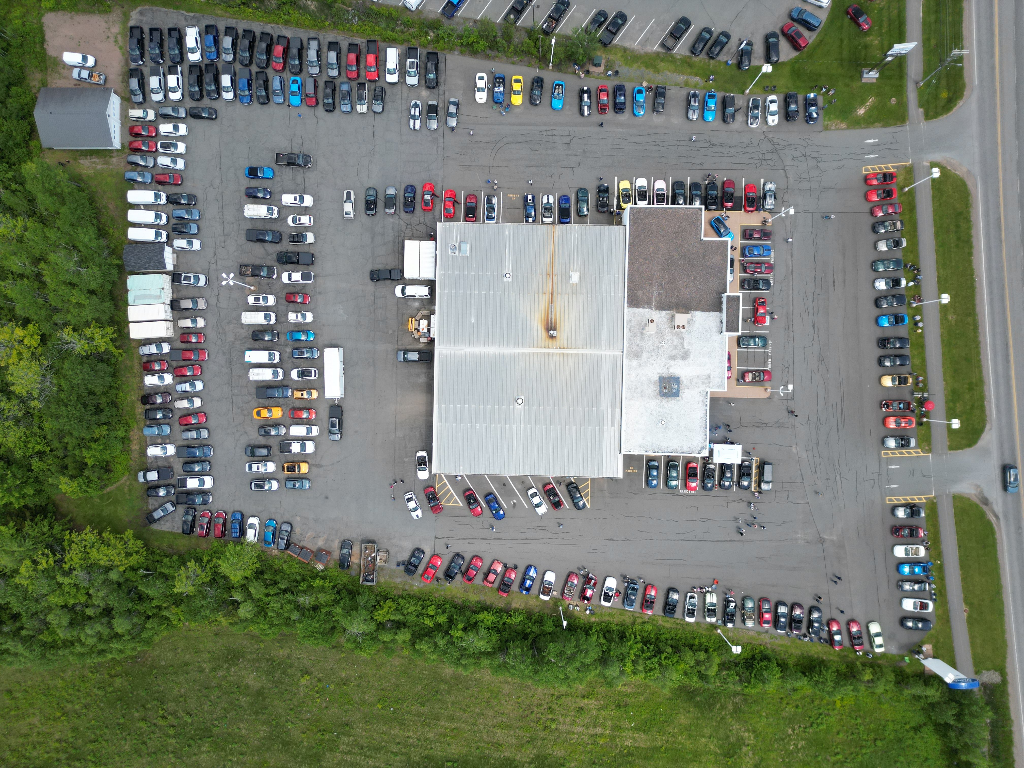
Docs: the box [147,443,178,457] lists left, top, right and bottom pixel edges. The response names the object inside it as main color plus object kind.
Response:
white car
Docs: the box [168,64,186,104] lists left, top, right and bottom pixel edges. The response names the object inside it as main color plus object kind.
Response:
white vehicle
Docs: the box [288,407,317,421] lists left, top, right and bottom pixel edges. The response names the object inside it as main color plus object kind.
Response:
red car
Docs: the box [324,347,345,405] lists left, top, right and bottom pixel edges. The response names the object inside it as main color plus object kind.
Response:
white trailer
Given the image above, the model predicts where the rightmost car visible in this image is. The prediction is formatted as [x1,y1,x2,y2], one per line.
[1002,464,1021,493]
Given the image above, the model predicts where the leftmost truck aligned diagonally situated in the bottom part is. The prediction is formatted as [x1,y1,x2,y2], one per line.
[145,500,179,526]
